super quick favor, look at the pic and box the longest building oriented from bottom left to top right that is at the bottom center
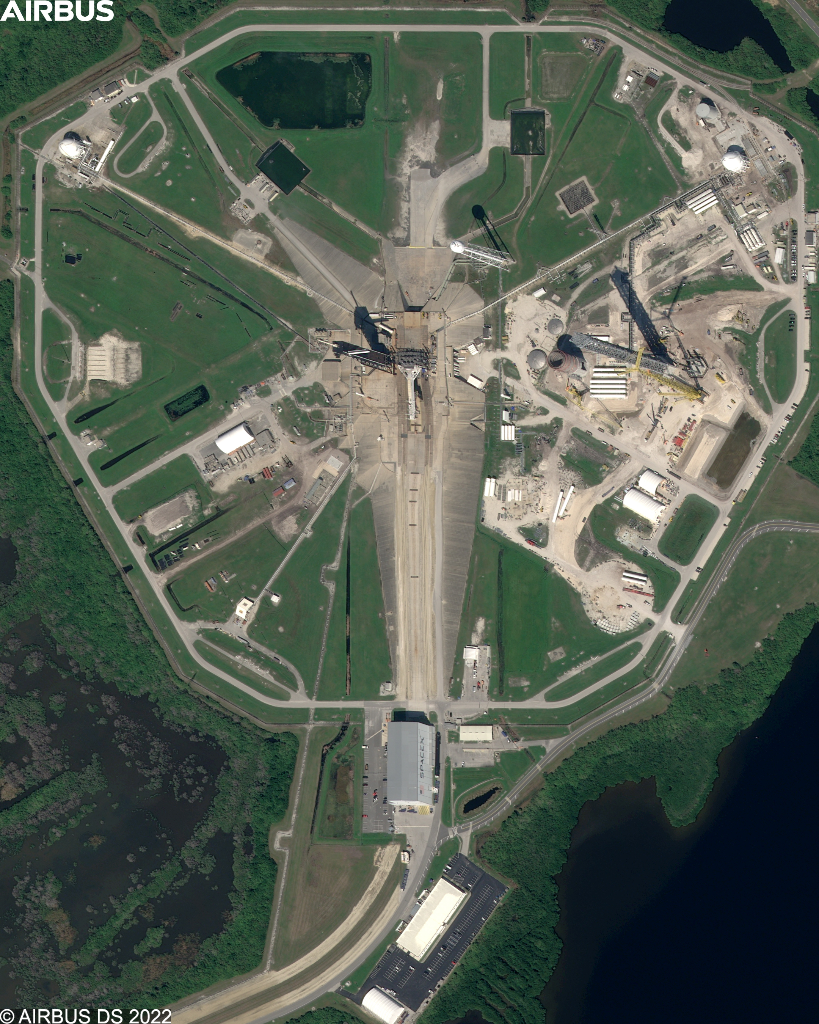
[396,878,470,960]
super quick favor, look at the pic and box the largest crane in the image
[617,343,710,406]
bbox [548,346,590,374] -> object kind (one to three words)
storage tank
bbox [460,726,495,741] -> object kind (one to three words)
building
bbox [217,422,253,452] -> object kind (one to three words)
building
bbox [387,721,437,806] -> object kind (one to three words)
hangar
